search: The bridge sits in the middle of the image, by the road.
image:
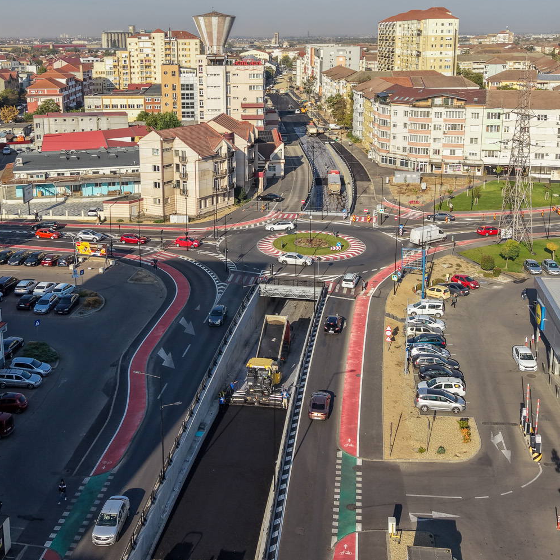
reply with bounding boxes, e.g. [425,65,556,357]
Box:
[261,284,320,302]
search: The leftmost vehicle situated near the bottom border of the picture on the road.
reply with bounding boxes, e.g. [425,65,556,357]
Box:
[88,499,133,553]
